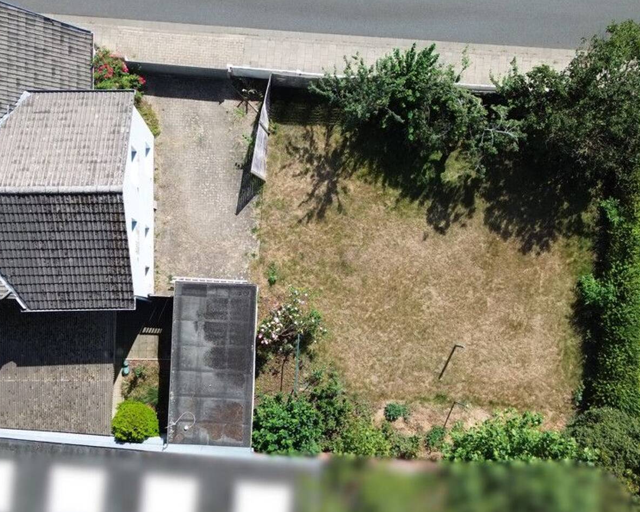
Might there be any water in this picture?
No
